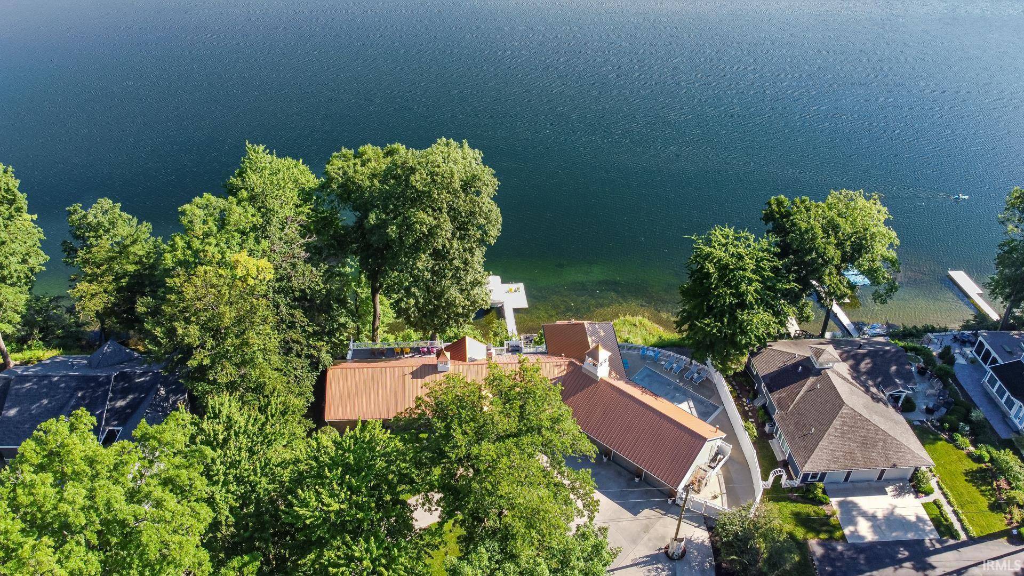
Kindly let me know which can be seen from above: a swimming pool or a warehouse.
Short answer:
swimming pool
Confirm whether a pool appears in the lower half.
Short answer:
Yes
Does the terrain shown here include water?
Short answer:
Yes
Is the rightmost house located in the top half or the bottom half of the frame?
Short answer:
bottom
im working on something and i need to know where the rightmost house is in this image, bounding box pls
[972,326,1024,441]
